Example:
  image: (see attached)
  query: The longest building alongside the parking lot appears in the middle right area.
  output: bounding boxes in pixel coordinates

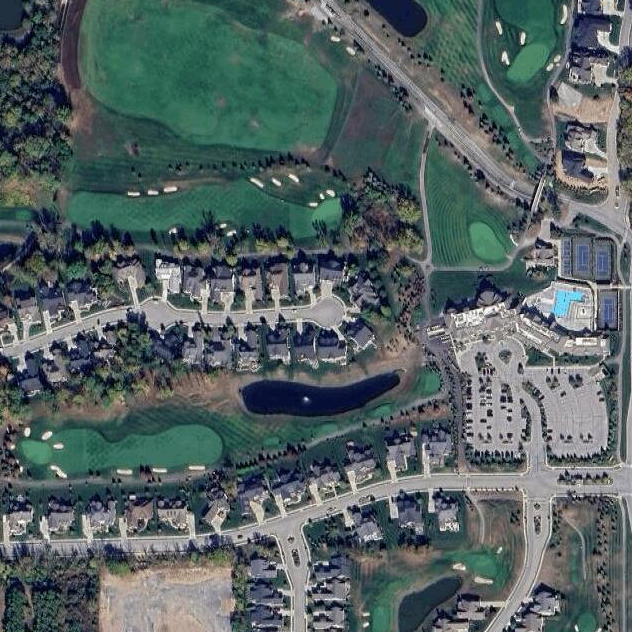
[441,286,612,357]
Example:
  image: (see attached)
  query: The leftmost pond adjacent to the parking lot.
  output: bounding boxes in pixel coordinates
[238,371,400,416]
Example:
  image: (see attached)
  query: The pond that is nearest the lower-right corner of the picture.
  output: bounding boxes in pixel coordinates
[397,575,462,632]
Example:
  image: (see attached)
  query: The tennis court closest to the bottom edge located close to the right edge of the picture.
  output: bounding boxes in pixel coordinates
[599,293,617,328]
